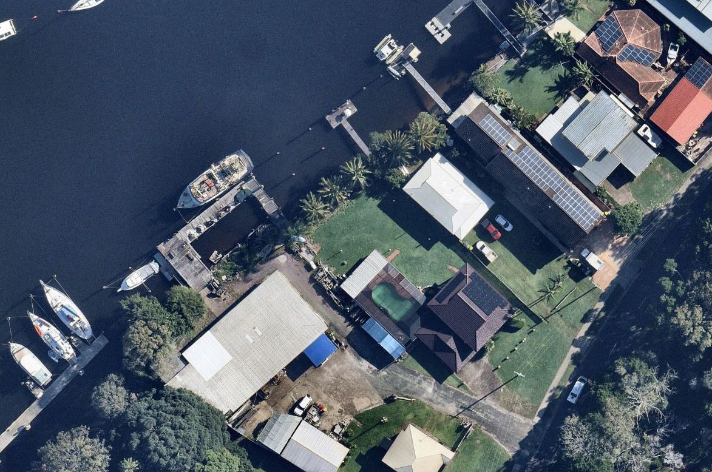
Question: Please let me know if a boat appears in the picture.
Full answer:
Yes, the photo shows a boat.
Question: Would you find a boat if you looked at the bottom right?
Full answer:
No, I can find no boat at the bottom right.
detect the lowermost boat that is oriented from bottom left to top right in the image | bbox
[117,260,162,291]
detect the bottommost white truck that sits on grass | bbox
[475,239,498,263]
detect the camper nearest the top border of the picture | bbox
[638,124,662,148]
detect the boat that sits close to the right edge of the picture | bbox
[667,41,679,64]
